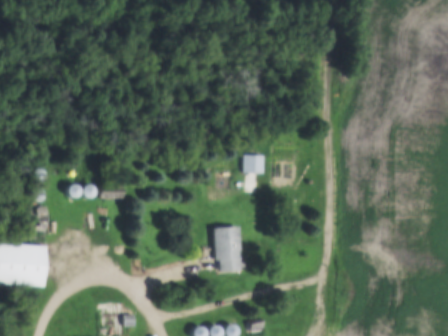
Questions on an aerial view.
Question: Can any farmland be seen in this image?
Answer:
Yes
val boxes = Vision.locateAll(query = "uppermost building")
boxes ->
[244,154,264,175]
